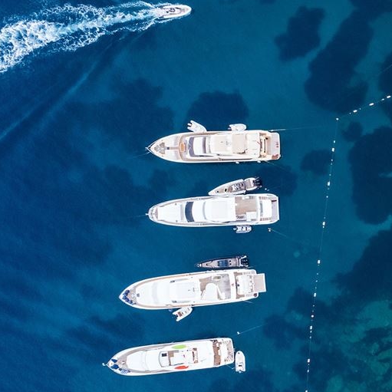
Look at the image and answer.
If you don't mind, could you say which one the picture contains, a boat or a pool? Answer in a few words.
boat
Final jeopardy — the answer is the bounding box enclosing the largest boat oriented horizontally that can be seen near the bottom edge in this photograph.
[105,337,240,373]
